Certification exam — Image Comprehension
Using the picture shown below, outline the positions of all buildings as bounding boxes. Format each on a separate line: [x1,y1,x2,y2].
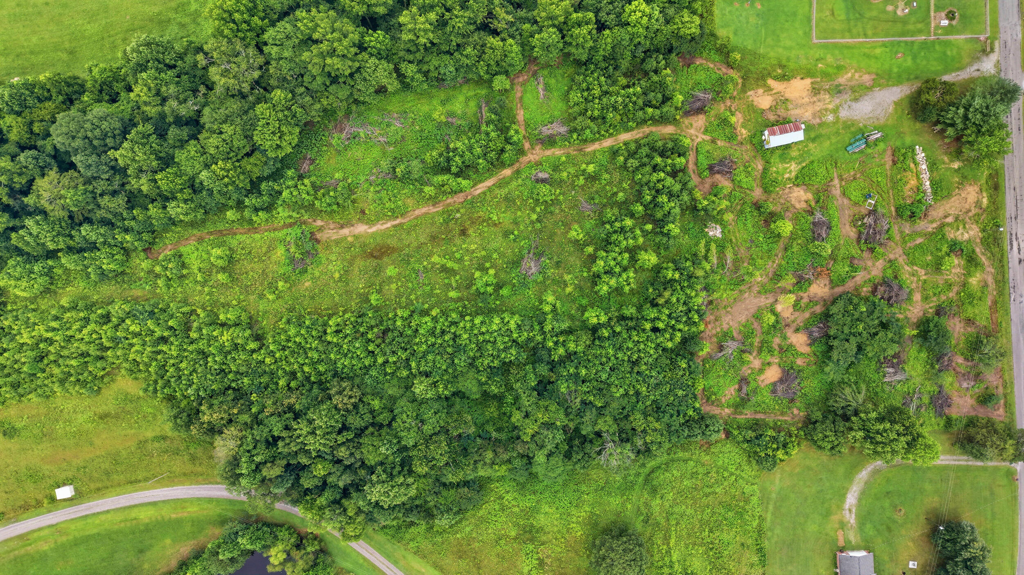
[827,548,881,575]
[761,121,809,149]
[52,485,76,502]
